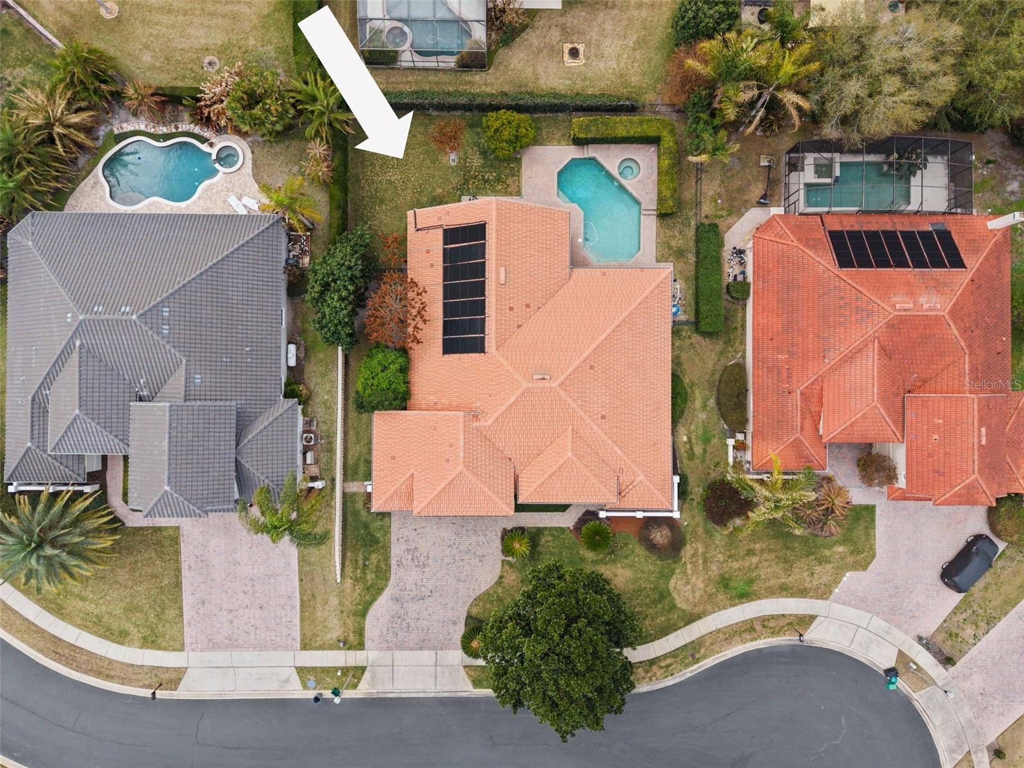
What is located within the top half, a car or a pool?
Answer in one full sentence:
The one visible within the top half is a pool.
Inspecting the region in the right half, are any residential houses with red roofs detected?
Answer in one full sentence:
Yes, the scene does show a residential house with a red roof in the right half.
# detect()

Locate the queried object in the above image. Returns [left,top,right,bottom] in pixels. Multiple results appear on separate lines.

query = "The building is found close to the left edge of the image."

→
[1,210,301,520]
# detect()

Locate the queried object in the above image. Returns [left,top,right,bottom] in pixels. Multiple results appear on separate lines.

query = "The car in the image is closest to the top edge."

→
[938,532,1001,595]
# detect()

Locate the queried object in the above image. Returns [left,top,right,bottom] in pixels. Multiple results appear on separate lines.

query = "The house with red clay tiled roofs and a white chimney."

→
[747,204,1024,508]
